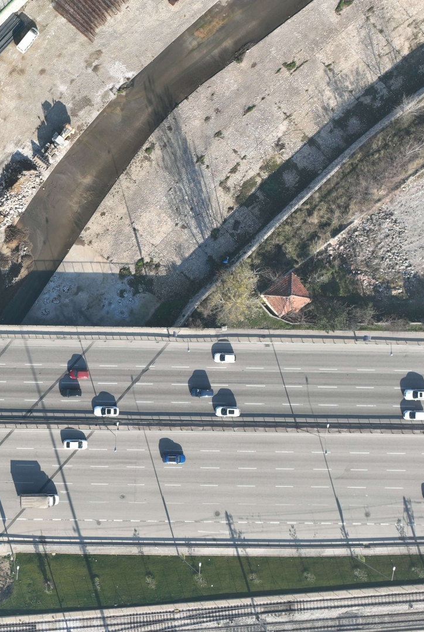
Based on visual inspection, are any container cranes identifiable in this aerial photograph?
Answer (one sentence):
No, there appears to be no container crane in this shot.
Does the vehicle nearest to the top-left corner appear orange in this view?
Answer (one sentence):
No, the color of the vehicle nearest to the top-left corner is white.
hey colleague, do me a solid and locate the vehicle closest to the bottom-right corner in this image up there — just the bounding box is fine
[402,409,424,421]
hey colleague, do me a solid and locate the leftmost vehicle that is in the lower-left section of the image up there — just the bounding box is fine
[16,494,58,510]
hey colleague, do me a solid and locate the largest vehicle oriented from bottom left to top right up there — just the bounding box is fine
[35,127,71,168]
